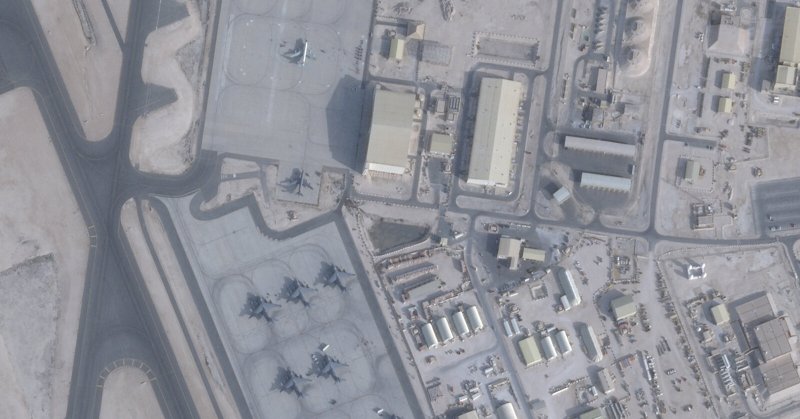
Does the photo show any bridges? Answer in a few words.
No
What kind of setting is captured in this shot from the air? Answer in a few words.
airport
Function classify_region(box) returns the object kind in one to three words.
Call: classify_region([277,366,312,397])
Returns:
airplane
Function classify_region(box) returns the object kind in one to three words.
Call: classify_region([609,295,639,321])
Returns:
building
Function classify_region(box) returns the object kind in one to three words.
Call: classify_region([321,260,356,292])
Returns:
airplane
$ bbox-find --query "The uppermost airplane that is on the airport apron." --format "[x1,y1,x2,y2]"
[291,41,320,65]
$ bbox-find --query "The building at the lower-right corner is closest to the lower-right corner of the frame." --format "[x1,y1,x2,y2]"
[753,353,800,399]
